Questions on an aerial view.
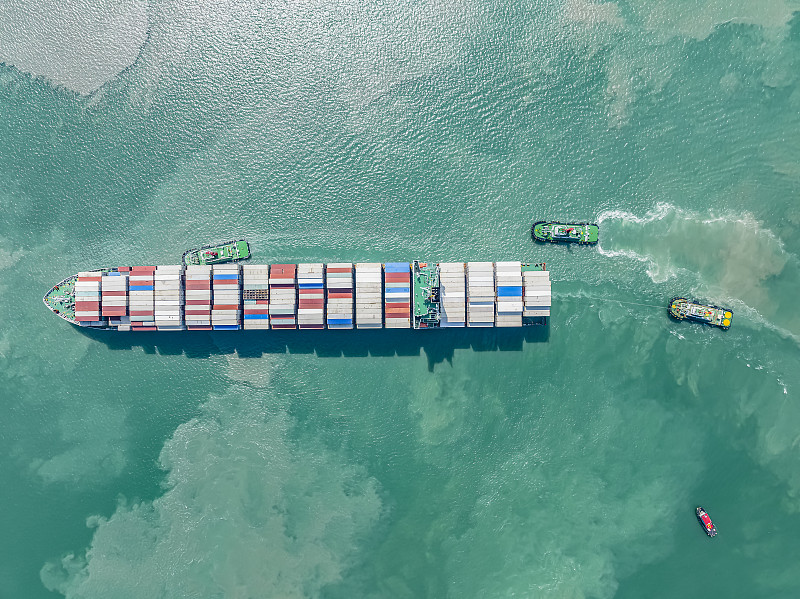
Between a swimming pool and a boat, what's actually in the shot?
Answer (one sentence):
There is a boat in the scene.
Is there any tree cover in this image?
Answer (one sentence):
No, no tree cover is visible.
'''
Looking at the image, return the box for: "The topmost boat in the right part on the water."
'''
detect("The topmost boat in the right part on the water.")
[531,221,598,244]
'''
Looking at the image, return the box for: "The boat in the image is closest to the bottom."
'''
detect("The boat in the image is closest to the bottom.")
[698,508,717,538]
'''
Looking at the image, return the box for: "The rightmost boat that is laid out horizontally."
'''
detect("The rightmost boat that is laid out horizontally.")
[666,298,733,330]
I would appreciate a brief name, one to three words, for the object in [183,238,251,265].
boat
